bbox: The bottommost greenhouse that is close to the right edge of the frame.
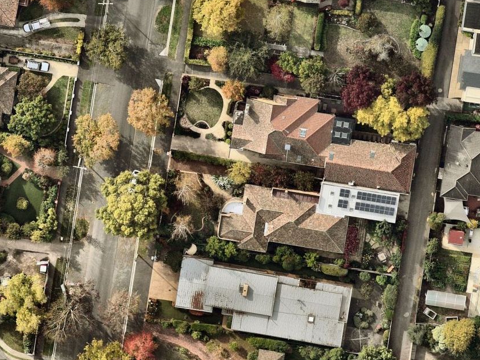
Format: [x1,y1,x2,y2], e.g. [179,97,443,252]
[425,289,466,308]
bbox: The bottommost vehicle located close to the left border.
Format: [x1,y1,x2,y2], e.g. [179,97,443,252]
[24,59,51,72]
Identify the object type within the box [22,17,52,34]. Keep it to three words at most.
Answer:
vehicle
